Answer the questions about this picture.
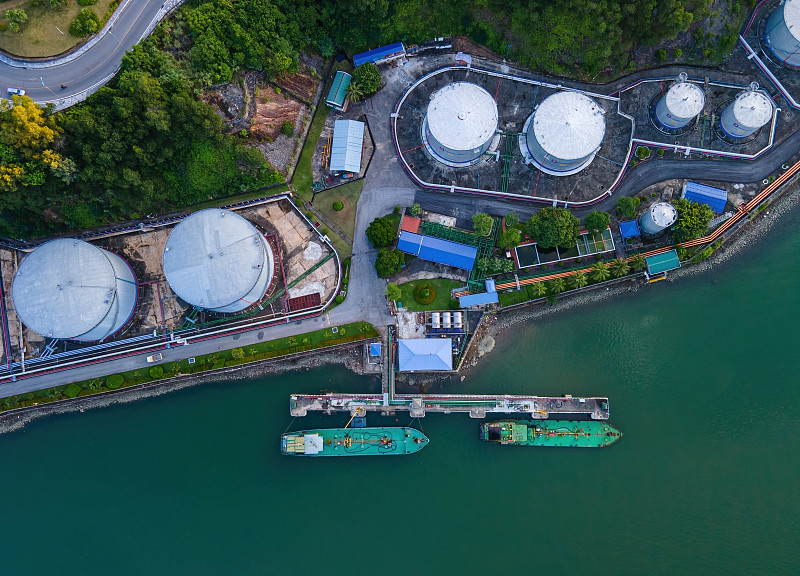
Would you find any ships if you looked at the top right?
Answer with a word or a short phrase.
No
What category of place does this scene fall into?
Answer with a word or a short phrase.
industrial area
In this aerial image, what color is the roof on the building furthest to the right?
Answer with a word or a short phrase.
blue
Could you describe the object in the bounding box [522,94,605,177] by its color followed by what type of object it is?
white storage tank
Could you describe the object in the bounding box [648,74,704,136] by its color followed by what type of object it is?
white storage tank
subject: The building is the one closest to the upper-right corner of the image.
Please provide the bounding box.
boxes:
[679,180,727,215]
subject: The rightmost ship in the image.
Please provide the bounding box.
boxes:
[480,420,622,447]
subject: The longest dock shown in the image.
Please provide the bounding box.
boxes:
[290,395,609,420]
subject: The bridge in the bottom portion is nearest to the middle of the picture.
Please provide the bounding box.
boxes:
[382,323,397,403]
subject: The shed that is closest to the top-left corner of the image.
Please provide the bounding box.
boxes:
[327,71,352,109]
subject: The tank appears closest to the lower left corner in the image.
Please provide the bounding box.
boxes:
[11,236,144,346]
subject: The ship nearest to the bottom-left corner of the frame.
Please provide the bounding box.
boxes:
[281,427,430,456]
